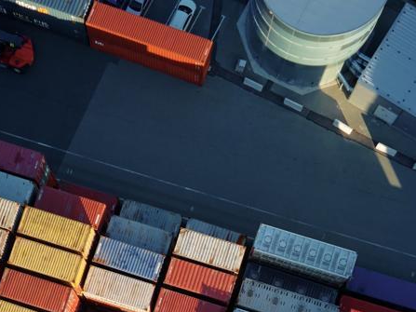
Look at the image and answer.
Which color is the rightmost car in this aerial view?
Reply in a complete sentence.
The rightmost car looks blue in the image.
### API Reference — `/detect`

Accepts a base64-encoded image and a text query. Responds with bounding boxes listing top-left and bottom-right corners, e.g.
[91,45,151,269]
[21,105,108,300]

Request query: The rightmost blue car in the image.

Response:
[166,0,198,31]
